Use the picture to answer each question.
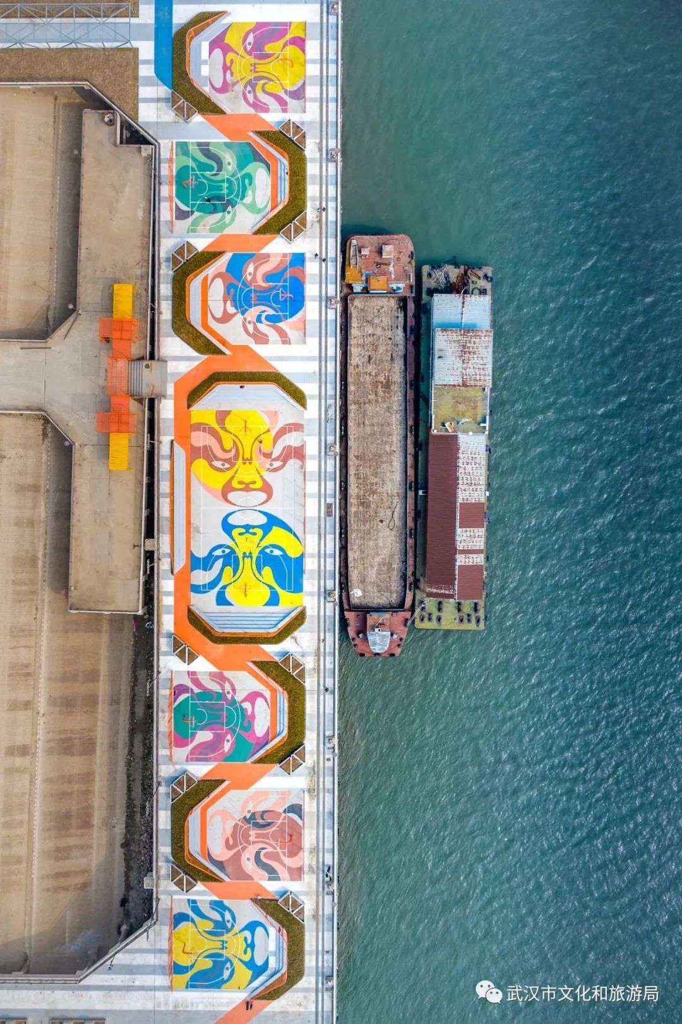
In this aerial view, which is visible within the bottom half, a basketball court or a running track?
basketball court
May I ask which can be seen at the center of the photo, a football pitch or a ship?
ship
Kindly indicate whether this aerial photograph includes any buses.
No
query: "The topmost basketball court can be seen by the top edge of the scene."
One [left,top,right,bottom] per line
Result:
[208,21,305,113]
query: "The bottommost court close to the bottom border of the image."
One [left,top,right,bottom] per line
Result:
[172,899,269,990]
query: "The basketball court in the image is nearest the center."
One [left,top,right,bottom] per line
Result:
[190,405,304,612]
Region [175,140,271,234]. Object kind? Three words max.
basketball court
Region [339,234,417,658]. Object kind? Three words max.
ship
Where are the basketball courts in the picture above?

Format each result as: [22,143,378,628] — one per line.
[190,405,304,612]
[208,21,305,113]
[208,252,305,345]
[207,789,303,882]
[172,899,269,990]
[172,670,270,763]
[175,140,271,234]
